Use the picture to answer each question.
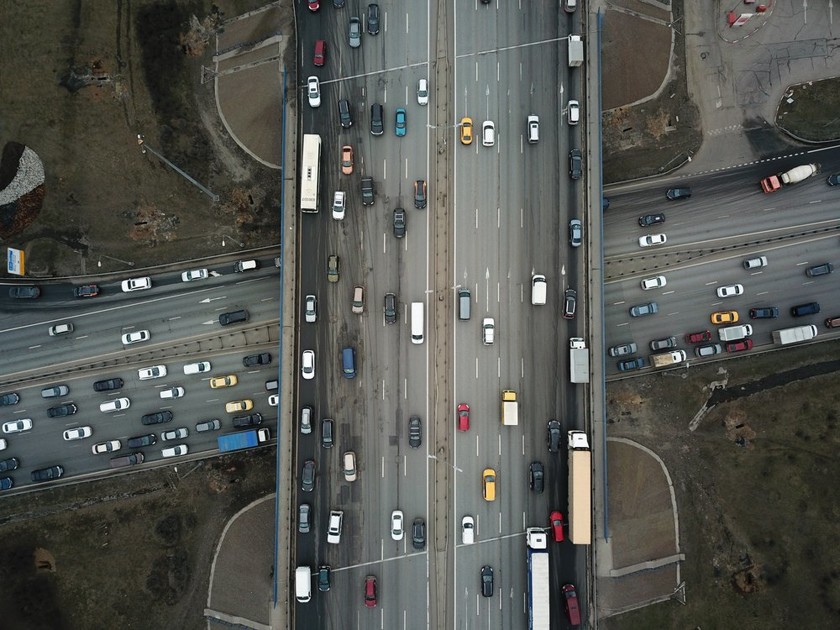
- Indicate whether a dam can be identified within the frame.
No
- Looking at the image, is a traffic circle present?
No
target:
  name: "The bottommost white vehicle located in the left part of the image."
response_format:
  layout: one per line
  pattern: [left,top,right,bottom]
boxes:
[295,566,311,603]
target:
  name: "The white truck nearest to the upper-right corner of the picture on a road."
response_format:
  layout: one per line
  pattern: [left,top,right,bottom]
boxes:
[760,162,825,194]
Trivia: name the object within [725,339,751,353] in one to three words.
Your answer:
vehicle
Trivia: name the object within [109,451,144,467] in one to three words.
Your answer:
vehicle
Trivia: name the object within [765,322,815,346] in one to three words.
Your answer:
truck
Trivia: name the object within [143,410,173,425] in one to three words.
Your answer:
car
